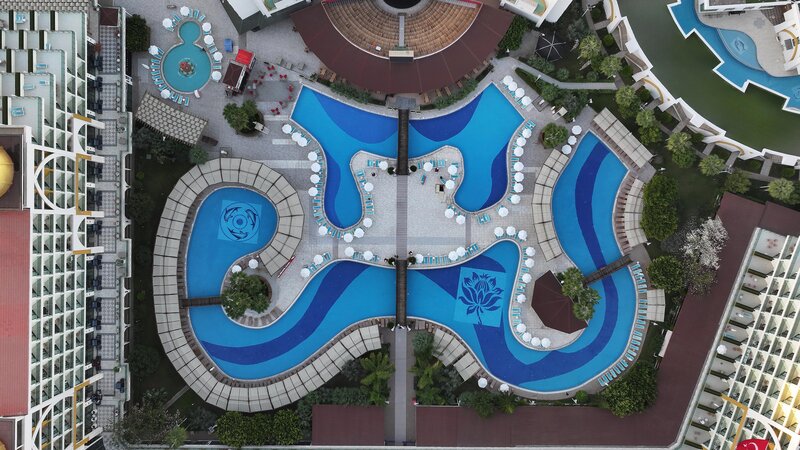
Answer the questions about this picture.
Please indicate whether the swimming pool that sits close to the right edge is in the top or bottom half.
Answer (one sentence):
It is in the top half that the swimming pool that sits close to the right edge appears.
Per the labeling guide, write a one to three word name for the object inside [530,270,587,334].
building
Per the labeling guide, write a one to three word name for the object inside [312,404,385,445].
building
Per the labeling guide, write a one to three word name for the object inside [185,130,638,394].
swimming pool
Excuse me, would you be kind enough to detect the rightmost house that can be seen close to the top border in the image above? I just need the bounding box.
[760,5,800,71]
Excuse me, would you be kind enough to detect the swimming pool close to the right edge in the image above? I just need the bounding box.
[667,0,800,115]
